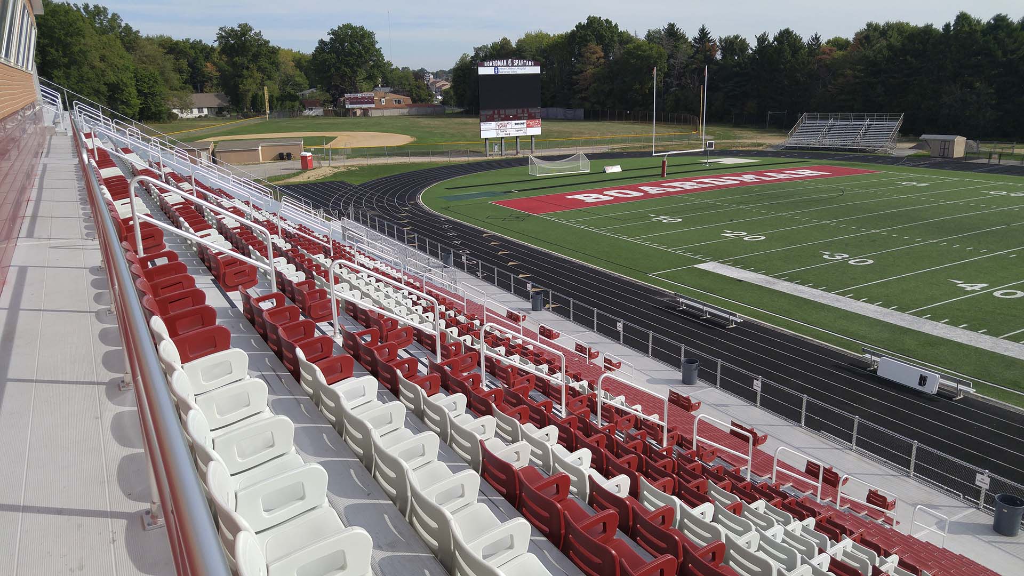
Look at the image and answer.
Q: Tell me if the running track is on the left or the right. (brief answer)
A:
right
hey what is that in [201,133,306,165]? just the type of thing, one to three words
building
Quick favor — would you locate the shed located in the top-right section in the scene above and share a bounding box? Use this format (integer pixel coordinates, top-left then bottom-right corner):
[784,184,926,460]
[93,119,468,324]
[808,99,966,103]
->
[921,132,970,157]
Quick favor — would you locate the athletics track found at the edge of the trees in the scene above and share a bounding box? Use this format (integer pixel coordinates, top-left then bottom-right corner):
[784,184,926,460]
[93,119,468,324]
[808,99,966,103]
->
[332,150,1024,524]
